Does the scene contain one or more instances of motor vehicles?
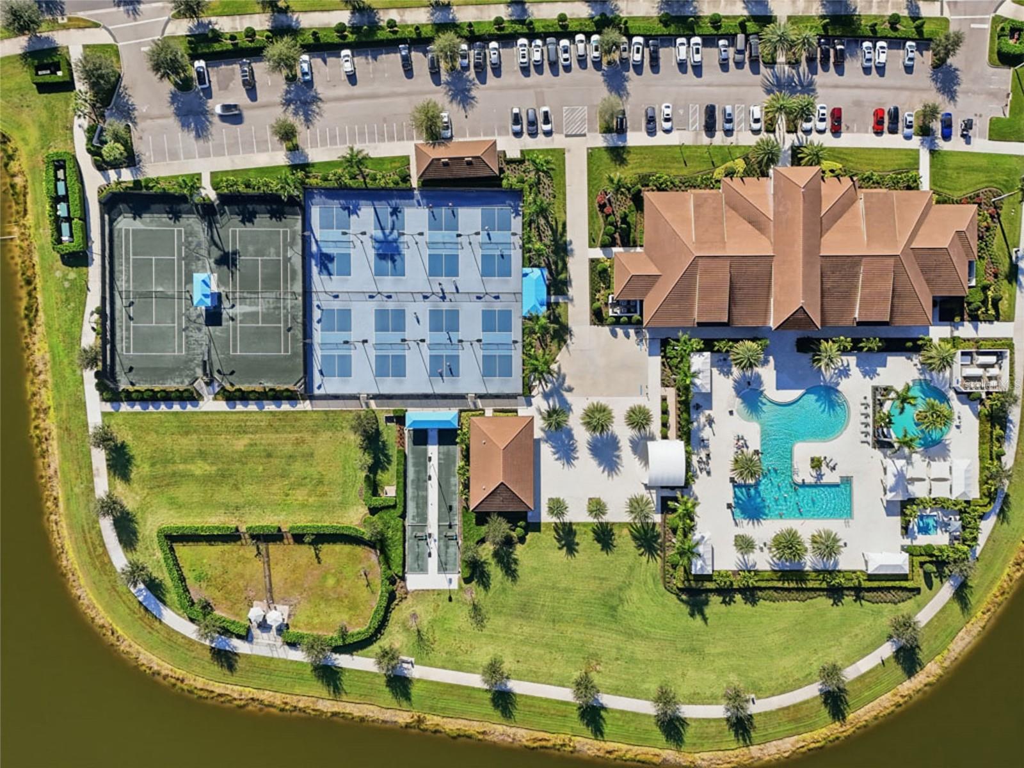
Yes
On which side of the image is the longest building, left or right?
right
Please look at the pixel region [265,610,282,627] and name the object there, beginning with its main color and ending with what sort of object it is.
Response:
white umbrella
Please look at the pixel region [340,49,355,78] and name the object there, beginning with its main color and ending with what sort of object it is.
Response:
white car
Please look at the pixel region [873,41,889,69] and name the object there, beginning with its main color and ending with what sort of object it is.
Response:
white car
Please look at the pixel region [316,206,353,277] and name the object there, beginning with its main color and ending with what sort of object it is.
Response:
blue sports court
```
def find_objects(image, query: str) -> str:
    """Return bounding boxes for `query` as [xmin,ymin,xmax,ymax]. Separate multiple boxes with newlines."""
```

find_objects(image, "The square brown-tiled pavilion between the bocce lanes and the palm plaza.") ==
[470,416,534,511]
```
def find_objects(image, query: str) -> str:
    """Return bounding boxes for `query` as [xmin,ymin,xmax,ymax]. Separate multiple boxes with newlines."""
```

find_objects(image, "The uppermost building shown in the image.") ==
[416,140,498,181]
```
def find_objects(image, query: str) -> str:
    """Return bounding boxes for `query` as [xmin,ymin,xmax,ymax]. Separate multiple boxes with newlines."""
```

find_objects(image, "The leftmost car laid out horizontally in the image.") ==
[215,103,243,117]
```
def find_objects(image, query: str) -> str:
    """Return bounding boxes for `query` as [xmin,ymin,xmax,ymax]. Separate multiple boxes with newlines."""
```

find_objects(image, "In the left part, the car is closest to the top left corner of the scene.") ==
[194,60,211,89]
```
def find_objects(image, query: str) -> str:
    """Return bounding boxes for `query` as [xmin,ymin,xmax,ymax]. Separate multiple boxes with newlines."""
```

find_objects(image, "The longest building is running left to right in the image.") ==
[614,166,978,330]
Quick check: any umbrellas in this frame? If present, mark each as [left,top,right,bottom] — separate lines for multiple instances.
[265,610,282,627]
[946,519,963,534]
[248,607,265,624]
